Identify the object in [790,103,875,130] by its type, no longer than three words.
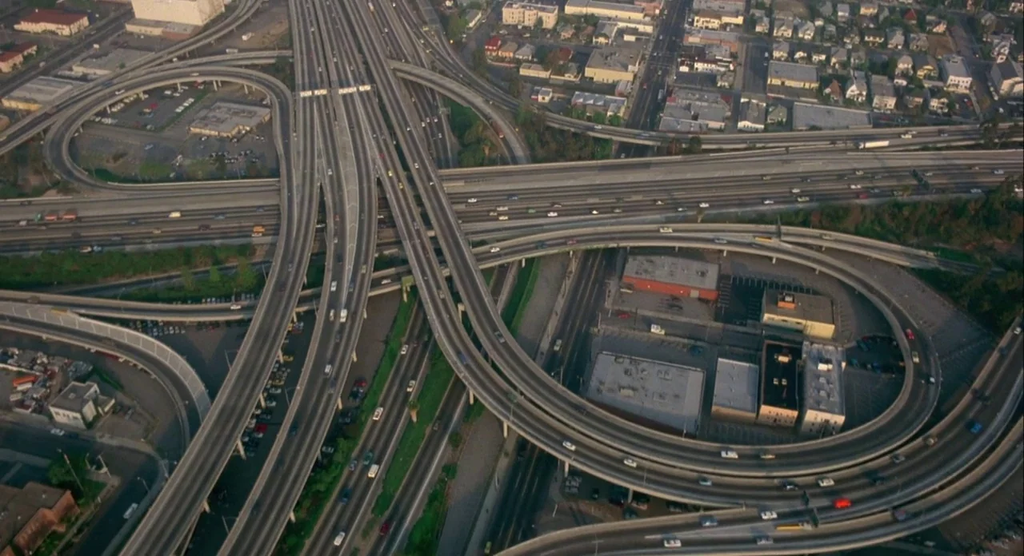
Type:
building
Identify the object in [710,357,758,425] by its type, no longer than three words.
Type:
building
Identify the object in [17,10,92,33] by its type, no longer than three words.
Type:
house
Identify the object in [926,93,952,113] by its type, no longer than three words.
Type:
house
